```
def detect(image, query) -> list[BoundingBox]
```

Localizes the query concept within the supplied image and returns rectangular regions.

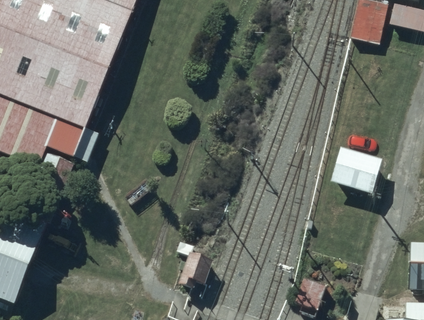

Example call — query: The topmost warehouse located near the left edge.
[0,0,136,129]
